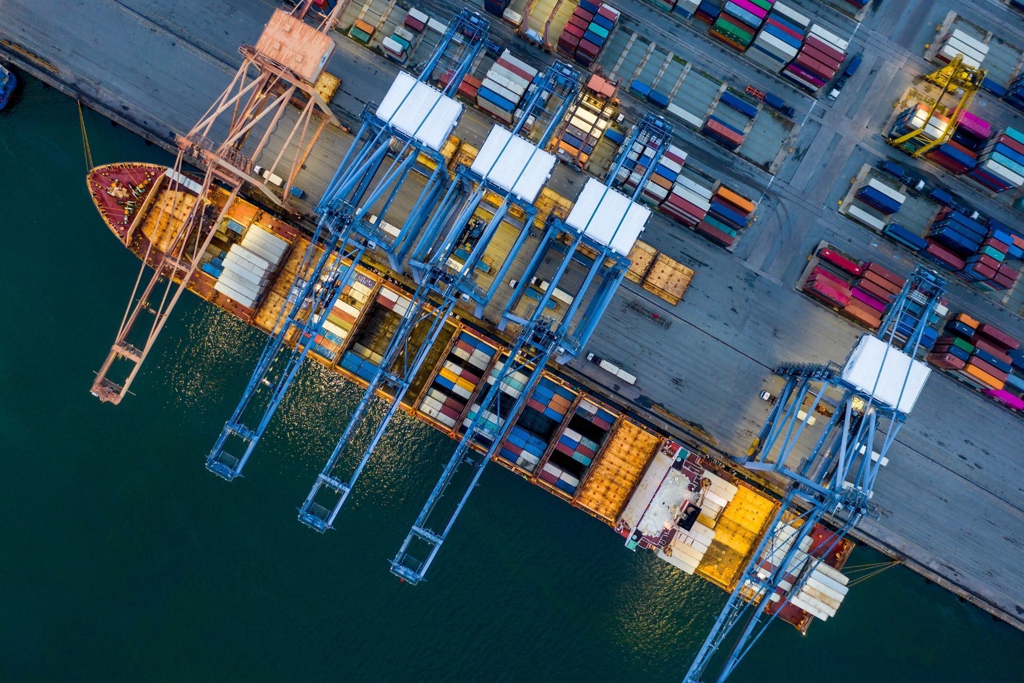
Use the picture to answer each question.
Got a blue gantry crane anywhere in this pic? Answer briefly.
Yes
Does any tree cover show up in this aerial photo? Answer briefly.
No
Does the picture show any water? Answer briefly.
Yes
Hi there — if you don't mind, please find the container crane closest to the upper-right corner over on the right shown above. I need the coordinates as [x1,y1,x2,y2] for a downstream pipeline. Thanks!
[885,52,993,160]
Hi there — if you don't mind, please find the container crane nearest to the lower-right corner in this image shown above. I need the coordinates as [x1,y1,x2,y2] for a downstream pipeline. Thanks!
[680,263,954,683]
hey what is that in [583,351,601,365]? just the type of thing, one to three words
vehicle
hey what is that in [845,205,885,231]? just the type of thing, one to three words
shipping container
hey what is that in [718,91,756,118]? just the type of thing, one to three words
shipping container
